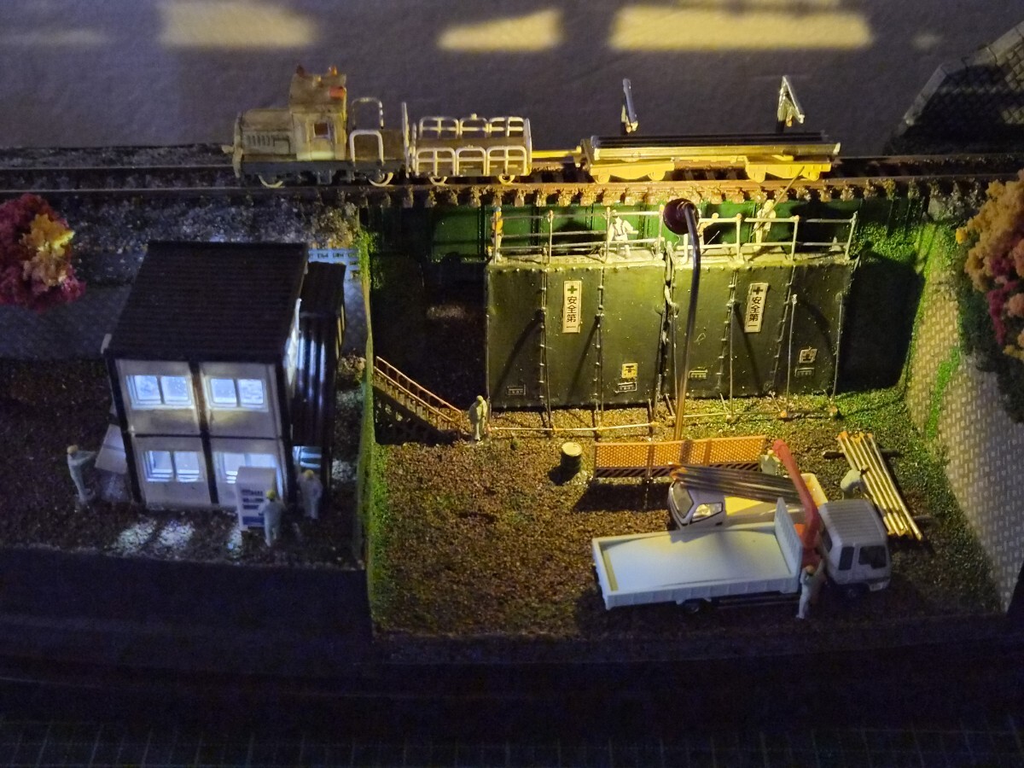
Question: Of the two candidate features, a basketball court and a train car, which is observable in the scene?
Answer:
train car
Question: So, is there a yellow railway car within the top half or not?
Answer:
Yes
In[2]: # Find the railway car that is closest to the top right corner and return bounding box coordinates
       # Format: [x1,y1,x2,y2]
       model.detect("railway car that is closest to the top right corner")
[528,67,829,182]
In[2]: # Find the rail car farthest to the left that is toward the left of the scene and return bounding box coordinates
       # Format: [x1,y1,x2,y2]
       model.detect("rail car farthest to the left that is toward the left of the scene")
[225,66,403,188]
